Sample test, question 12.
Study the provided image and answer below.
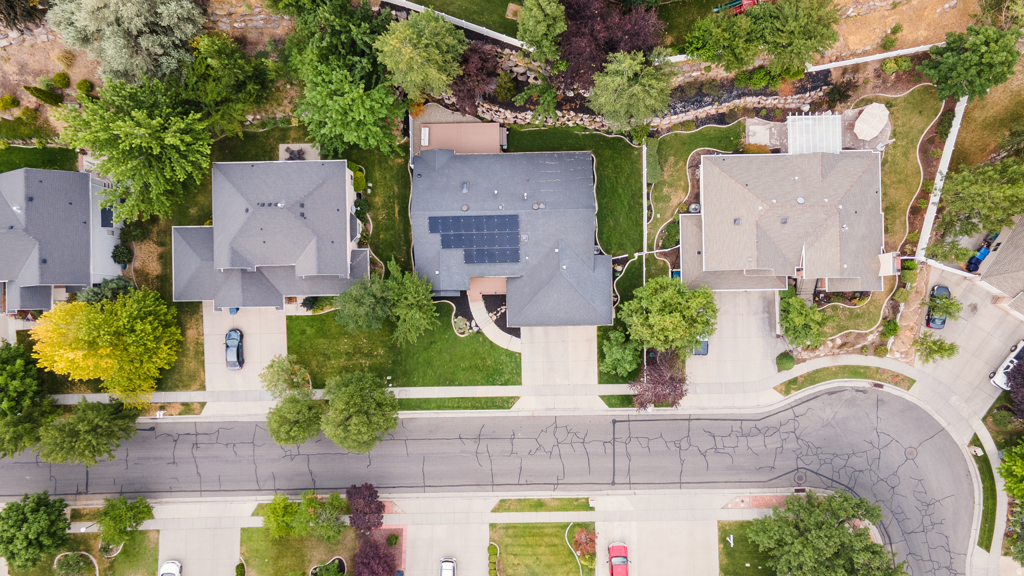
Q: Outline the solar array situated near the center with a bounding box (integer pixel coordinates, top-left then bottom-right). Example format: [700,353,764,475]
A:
[428,215,519,264]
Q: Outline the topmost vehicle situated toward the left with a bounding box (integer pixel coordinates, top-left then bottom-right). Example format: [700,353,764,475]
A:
[219,329,242,371]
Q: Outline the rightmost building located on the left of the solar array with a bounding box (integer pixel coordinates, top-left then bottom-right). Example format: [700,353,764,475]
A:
[172,159,371,312]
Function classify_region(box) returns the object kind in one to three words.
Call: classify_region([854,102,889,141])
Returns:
umbrella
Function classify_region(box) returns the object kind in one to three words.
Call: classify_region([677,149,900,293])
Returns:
house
